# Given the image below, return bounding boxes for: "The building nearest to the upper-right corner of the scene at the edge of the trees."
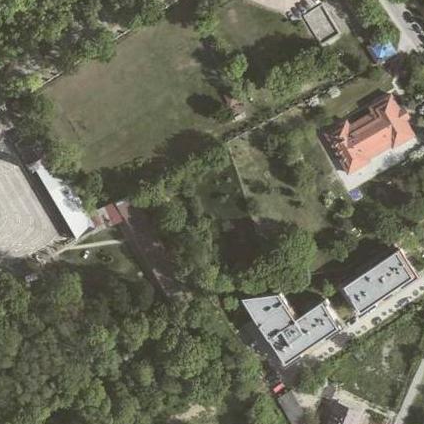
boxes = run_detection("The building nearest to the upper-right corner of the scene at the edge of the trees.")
[369,42,398,62]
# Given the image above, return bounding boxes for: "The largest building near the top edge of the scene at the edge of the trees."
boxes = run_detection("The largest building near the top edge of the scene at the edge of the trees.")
[304,4,339,42]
